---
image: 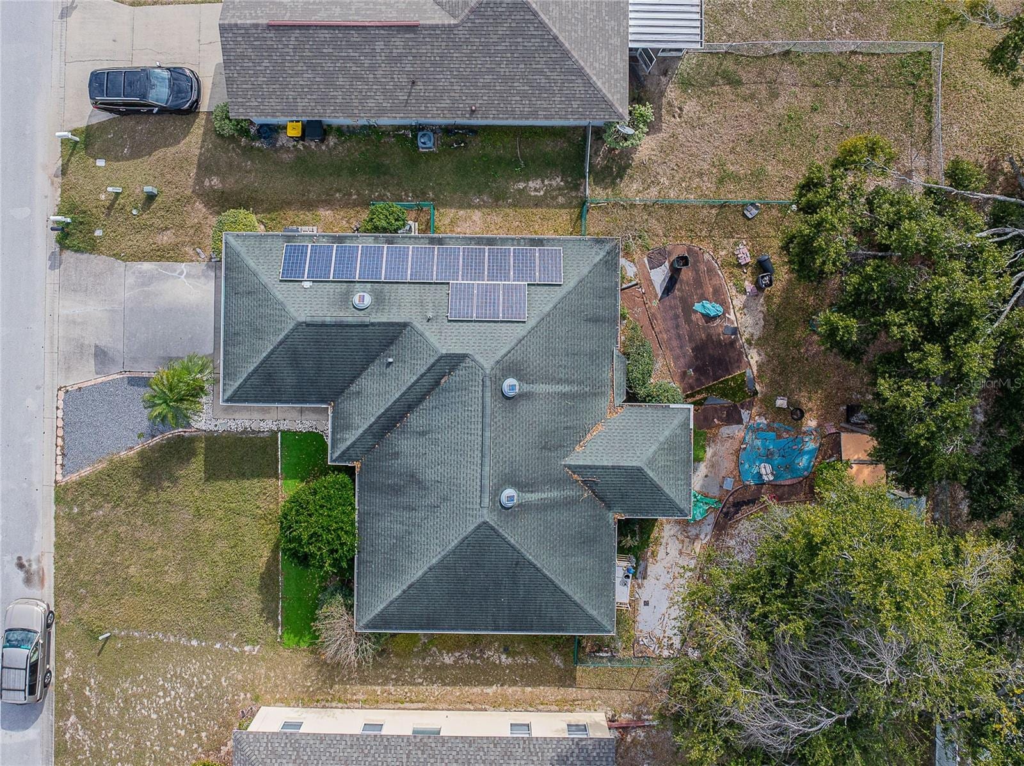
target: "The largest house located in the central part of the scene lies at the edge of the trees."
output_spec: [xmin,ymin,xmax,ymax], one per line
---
[220,235,694,633]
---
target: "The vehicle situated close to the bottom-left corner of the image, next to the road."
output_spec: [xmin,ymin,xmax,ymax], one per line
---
[0,597,55,704]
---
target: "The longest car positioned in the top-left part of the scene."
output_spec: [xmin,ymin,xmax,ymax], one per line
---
[88,59,203,118]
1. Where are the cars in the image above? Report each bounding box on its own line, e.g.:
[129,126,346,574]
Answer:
[88,59,203,118]
[0,597,55,704]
